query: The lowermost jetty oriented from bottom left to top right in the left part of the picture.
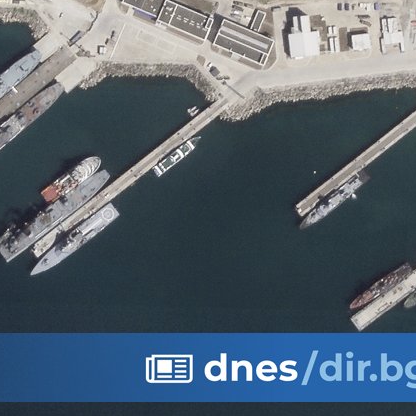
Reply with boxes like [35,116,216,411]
[31,95,233,256]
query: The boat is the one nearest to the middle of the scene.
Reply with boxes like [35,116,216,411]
[152,137,200,176]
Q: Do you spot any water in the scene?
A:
Yes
